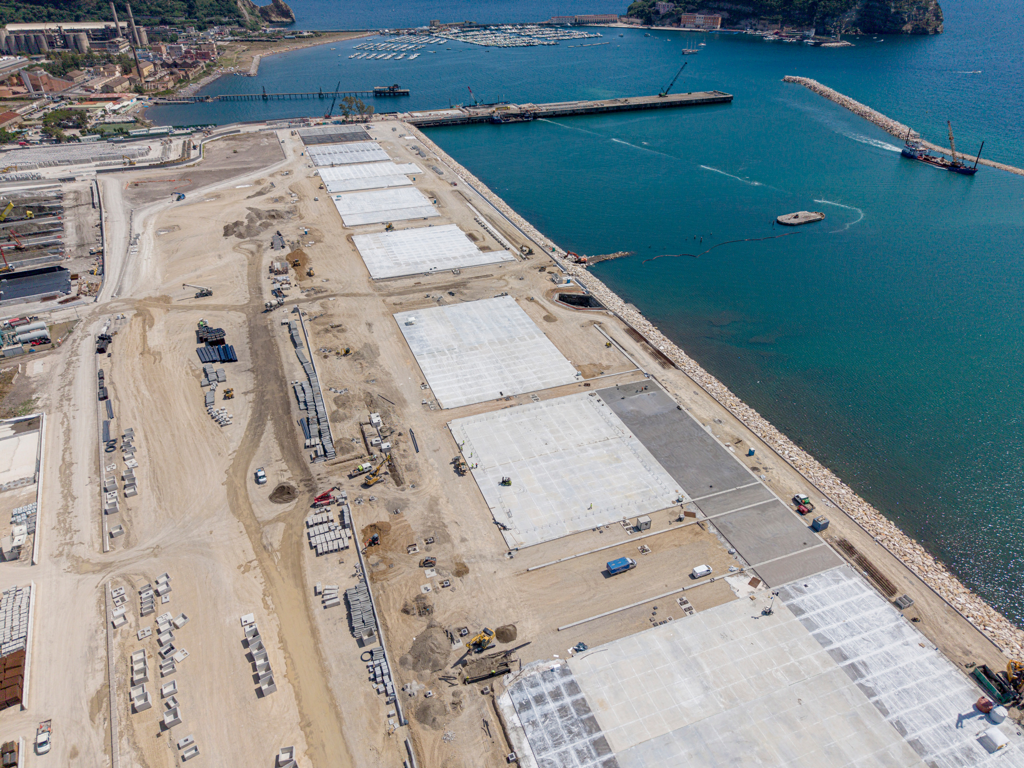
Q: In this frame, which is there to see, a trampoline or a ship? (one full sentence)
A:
The image shows a ship.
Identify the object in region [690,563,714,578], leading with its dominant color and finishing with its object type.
white vehicle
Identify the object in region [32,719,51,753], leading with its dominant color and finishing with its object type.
white vehicle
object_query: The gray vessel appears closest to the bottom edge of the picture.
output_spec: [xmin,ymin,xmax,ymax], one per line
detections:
[775,211,829,225]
